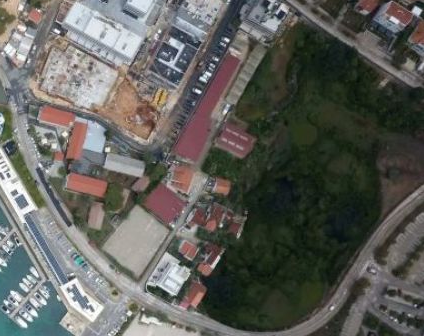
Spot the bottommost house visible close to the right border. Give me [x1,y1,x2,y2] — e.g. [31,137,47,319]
[403,21,424,60]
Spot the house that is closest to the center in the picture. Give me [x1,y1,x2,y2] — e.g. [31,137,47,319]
[202,178,231,194]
